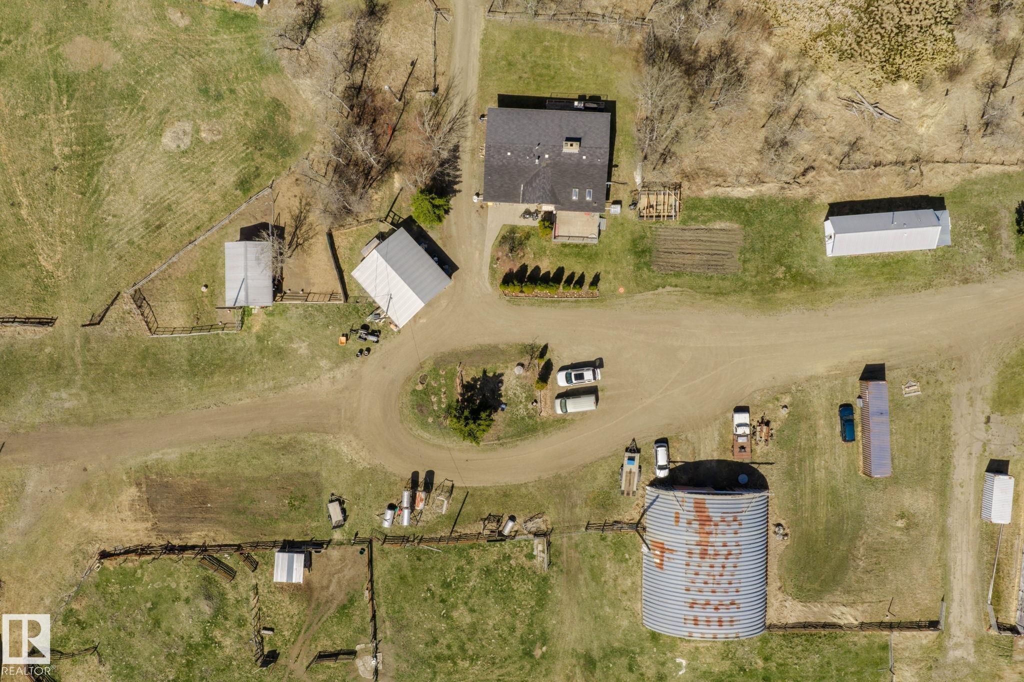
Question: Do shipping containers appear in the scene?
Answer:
Yes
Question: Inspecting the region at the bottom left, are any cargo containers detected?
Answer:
No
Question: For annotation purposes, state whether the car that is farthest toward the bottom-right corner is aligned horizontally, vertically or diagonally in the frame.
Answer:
vertically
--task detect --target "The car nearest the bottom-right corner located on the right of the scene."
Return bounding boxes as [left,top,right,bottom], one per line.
[838,404,858,443]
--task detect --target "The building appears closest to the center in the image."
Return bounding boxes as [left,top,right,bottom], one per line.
[352,227,451,328]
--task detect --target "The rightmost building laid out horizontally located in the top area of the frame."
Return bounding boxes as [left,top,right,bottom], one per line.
[824,209,942,256]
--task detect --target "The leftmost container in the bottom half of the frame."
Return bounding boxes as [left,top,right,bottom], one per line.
[859,380,892,478]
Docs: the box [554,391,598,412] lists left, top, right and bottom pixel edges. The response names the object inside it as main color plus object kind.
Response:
white vehicle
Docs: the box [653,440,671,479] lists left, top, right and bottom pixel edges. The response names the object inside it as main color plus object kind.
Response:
white car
